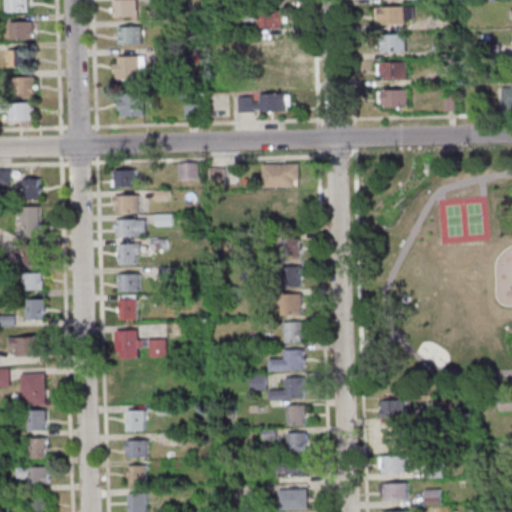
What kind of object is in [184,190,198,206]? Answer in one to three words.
swimming pool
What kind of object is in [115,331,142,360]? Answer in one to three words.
house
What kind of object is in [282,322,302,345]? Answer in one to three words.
house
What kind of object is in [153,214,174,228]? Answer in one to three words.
building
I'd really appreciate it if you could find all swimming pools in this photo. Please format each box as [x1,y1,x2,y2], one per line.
[184,190,198,206]
[14,468,27,481]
